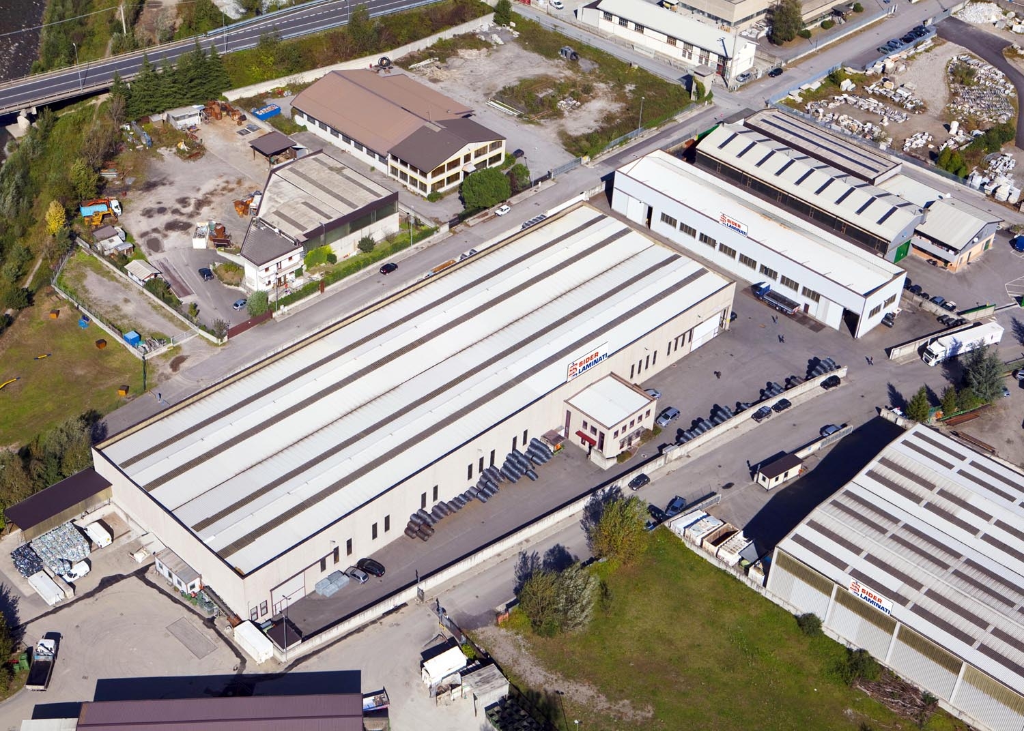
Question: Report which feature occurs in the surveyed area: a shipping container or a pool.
shipping container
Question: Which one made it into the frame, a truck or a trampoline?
truck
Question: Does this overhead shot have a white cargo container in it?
Yes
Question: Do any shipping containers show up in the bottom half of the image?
Yes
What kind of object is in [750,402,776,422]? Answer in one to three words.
car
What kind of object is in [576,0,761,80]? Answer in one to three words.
building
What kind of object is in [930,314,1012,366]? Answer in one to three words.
truck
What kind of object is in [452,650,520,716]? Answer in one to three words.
shed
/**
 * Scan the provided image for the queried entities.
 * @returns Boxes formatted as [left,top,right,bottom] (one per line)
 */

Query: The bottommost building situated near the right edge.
[767,420,1024,731]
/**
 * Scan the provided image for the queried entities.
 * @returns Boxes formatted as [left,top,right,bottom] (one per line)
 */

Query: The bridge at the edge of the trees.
[0,37,184,142]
